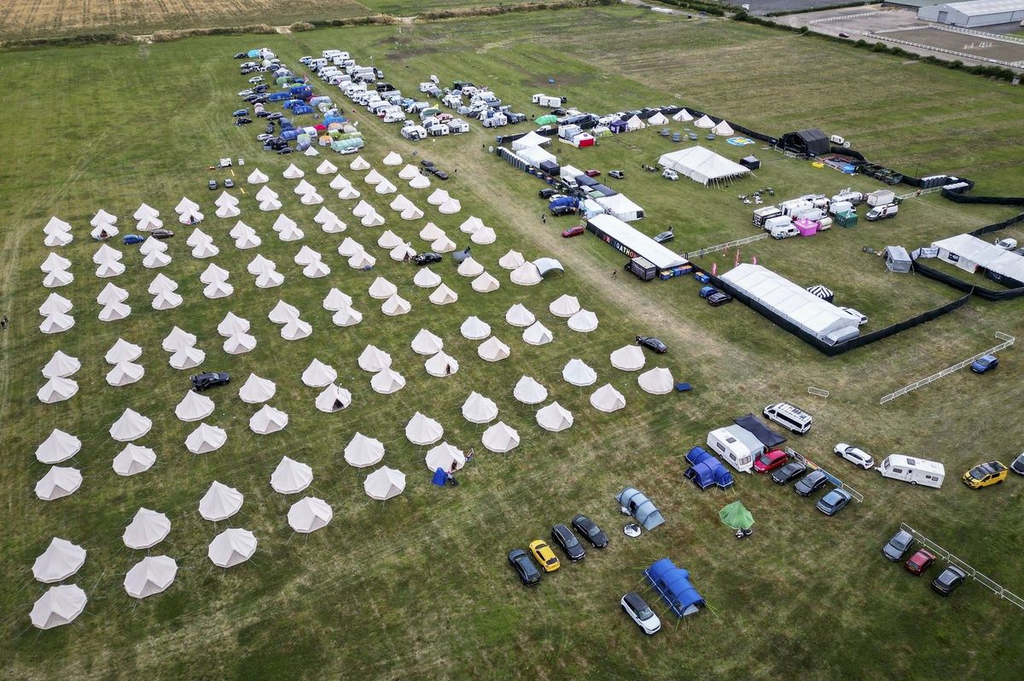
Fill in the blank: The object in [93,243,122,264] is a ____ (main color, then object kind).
white tent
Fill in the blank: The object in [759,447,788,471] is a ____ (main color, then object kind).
red car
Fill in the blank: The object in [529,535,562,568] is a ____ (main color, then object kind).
yellow car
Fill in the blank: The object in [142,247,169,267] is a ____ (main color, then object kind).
white tent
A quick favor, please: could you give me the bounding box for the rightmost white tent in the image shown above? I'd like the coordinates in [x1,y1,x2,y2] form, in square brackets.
[935,235,1024,296]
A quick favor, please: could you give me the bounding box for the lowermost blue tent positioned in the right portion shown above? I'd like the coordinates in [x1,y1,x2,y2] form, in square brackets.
[637,557,721,624]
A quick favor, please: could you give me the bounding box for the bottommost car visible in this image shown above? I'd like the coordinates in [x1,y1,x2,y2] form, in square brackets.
[623,589,665,630]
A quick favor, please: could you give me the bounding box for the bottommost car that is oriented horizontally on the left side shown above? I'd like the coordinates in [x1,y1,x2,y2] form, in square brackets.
[191,371,227,389]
